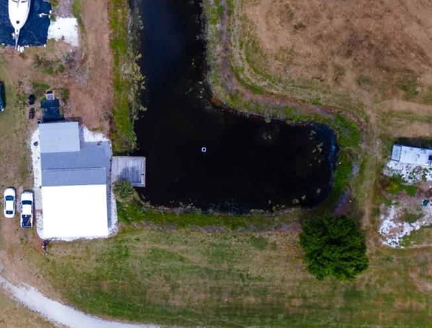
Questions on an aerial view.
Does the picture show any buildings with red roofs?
No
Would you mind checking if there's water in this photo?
Yes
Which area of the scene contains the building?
left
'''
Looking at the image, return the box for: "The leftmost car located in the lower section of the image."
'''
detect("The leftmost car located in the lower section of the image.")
[2,187,16,219]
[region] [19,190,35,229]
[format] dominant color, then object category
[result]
white vehicle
